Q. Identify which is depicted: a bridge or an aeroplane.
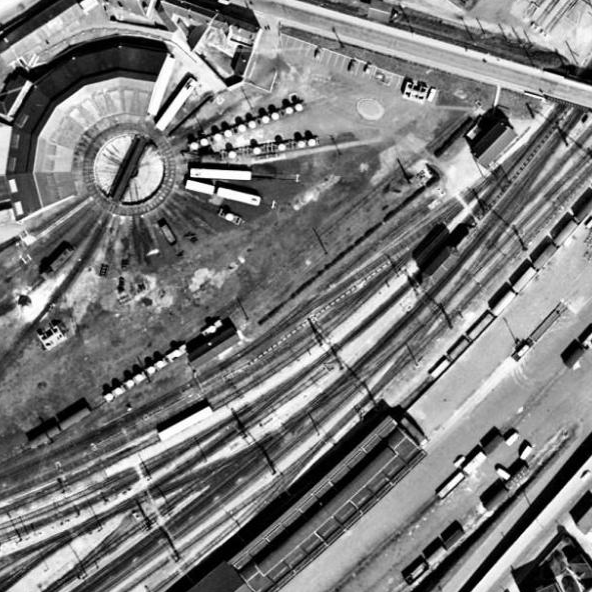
bridge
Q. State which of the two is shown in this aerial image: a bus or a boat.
bus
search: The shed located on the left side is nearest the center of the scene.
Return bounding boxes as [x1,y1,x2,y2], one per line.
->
[189,321,243,370]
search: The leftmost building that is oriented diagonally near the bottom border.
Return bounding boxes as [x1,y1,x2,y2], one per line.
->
[228,414,425,592]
